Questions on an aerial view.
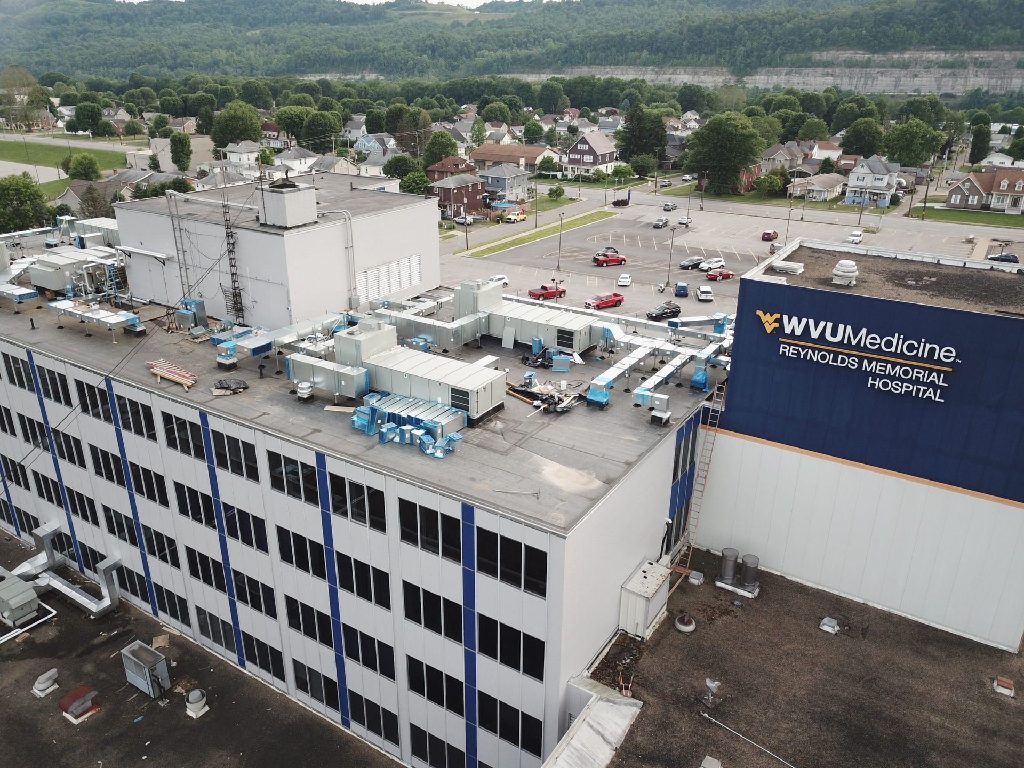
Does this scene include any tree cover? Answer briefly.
Yes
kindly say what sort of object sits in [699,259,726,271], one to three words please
vehicle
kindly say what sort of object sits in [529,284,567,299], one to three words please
vehicle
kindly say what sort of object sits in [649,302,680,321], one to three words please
car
